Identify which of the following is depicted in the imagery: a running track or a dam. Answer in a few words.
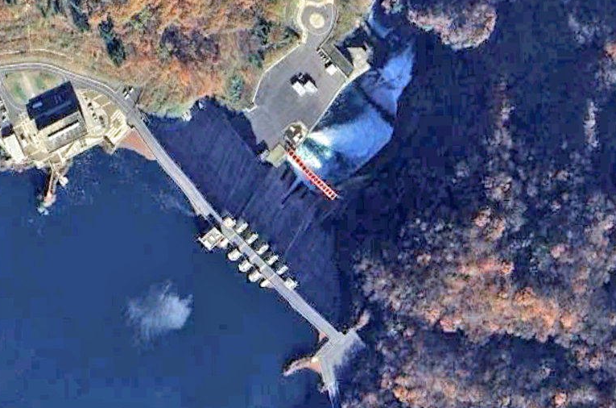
dam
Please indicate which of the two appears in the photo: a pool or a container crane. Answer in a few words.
pool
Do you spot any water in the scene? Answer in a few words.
Yes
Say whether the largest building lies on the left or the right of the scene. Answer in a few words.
left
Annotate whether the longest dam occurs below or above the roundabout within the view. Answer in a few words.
below it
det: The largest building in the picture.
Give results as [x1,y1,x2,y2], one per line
[39,110,87,153]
